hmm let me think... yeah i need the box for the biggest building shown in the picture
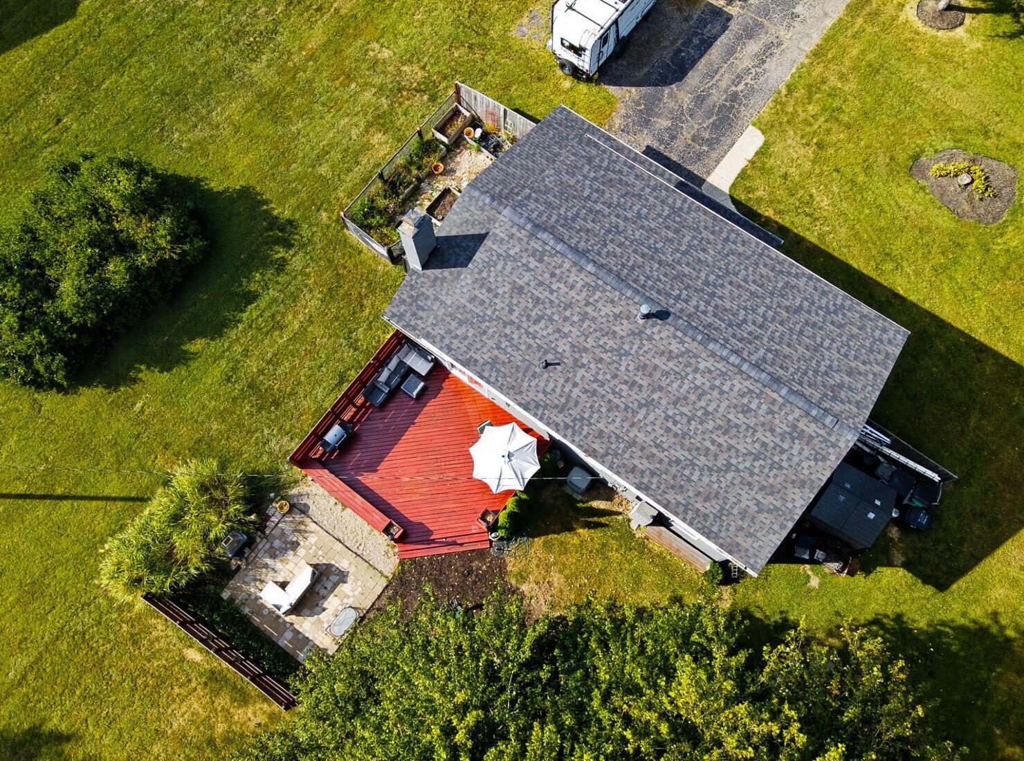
[384,104,908,577]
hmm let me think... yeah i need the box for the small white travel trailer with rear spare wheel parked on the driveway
[548,0,649,79]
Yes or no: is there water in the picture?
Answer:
No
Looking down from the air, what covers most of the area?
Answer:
grass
